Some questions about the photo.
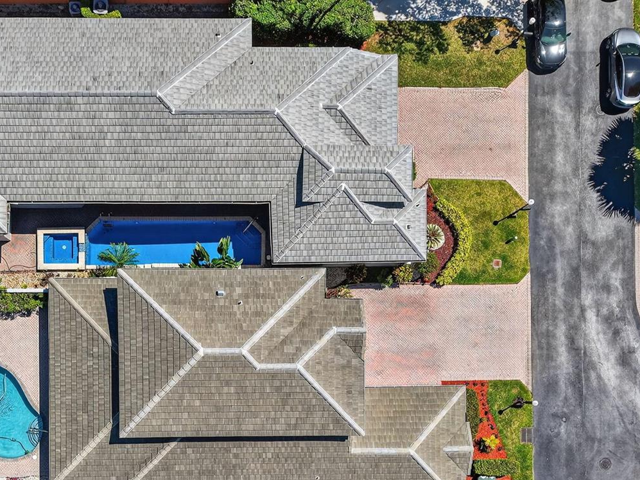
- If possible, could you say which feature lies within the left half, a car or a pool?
pool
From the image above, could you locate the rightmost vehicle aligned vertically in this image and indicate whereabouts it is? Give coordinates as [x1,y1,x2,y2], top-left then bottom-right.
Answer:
[606,30,640,109]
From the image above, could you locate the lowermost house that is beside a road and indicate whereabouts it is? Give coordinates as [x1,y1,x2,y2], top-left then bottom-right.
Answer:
[47,265,474,480]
